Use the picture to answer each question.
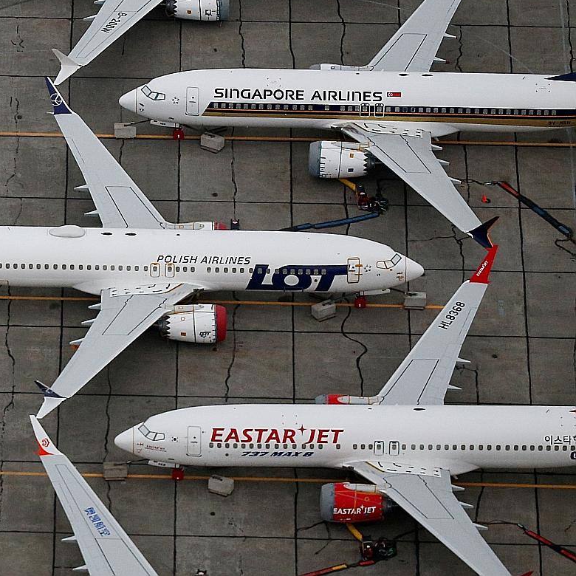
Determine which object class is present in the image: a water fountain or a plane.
plane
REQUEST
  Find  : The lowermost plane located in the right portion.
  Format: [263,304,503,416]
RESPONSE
[116,245,576,576]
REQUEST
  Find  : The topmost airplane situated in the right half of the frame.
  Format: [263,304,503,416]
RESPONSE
[121,0,576,251]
